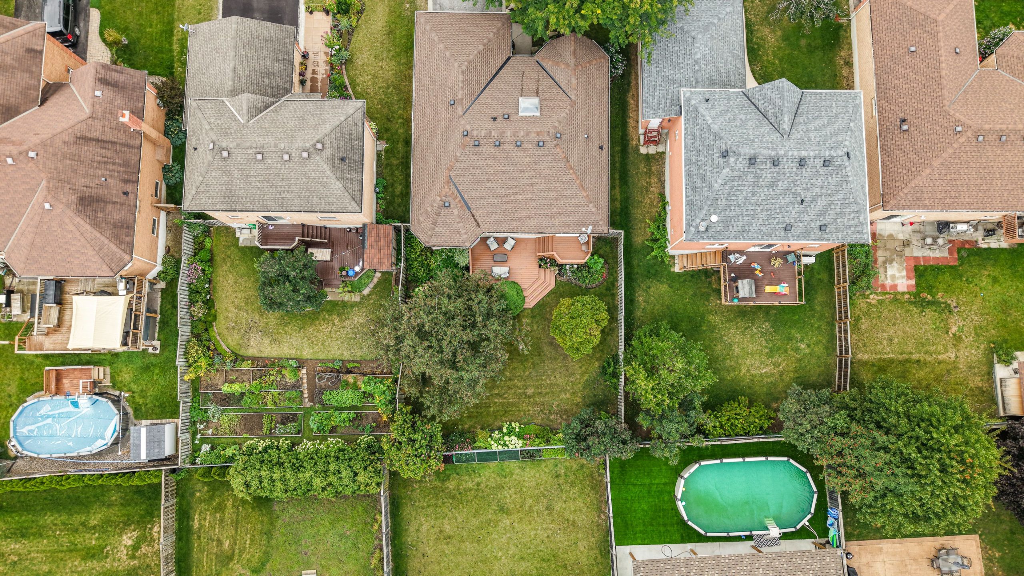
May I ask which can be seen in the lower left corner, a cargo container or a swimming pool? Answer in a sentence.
Looking in the lower left corner, you will find a swimming pool.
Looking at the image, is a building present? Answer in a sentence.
Yes, there's a building here.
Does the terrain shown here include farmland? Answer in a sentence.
No, farmland can't be seen anywhere here.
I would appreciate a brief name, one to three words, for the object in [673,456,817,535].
swimming pool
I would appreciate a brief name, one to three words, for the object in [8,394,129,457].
swimming pool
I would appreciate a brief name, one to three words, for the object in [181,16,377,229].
house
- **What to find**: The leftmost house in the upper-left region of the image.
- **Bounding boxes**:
[0,17,178,279]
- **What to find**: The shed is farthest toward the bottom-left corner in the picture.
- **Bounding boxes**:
[131,423,187,460]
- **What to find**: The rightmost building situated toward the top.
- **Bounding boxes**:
[848,0,1024,223]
